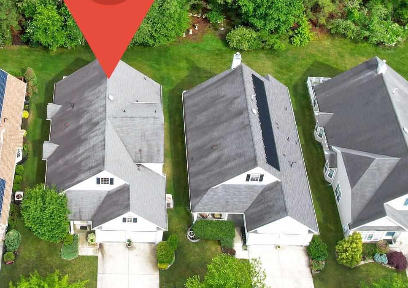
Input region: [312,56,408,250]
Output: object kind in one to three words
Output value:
house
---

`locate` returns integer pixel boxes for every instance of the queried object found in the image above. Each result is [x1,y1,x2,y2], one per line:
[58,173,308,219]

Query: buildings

[181,48,320,246]
[312,56,408,250]
[0,69,28,240]
[41,53,169,243]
